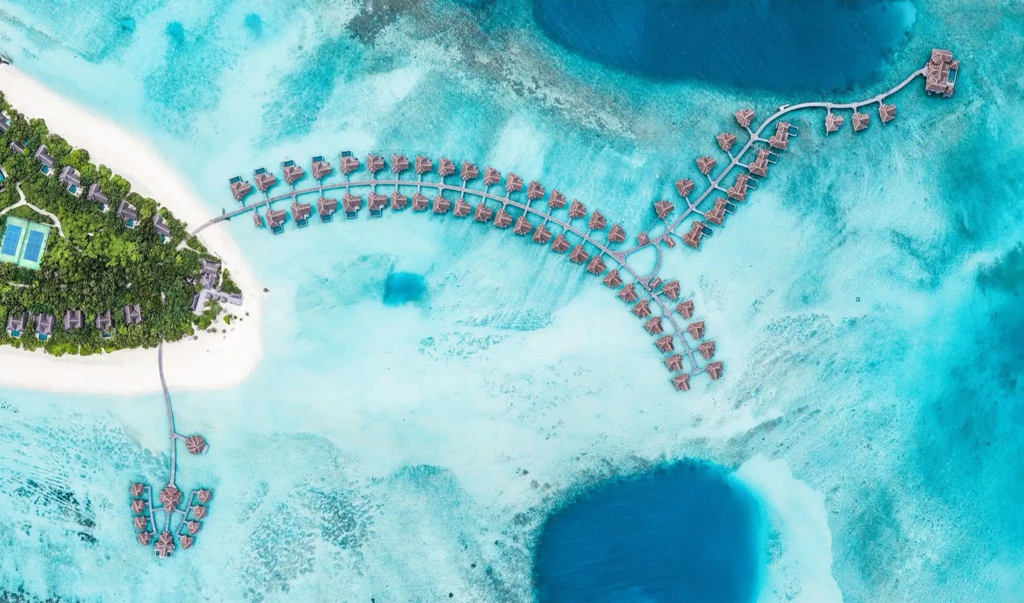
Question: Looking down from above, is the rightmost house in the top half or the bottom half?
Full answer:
The top half of the photo is where the rightmost house is.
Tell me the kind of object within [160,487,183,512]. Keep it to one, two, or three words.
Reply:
building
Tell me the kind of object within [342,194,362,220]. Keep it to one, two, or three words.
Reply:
house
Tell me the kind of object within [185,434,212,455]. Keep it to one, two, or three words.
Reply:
building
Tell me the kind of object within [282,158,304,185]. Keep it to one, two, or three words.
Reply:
house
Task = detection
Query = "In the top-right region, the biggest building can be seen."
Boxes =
[921,48,960,98]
